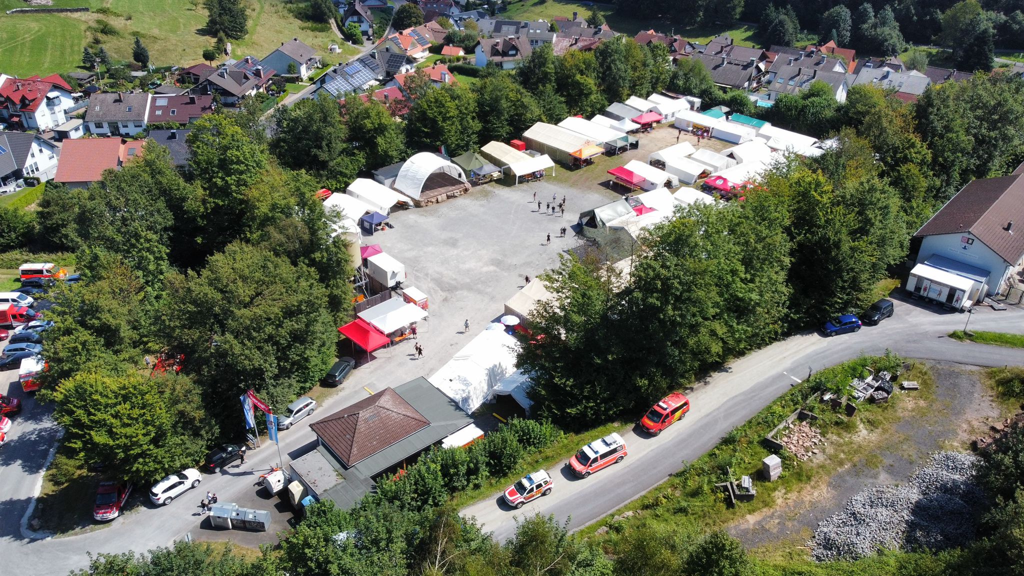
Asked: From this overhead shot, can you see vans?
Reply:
Yes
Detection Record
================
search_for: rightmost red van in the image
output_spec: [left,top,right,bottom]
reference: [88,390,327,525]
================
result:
[638,390,691,436]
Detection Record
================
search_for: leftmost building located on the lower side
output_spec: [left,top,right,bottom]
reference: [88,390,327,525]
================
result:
[288,379,478,516]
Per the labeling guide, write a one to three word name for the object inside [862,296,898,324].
car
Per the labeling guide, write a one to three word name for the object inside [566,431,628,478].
van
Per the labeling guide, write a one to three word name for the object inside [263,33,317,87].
house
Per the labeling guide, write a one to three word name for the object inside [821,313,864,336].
car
